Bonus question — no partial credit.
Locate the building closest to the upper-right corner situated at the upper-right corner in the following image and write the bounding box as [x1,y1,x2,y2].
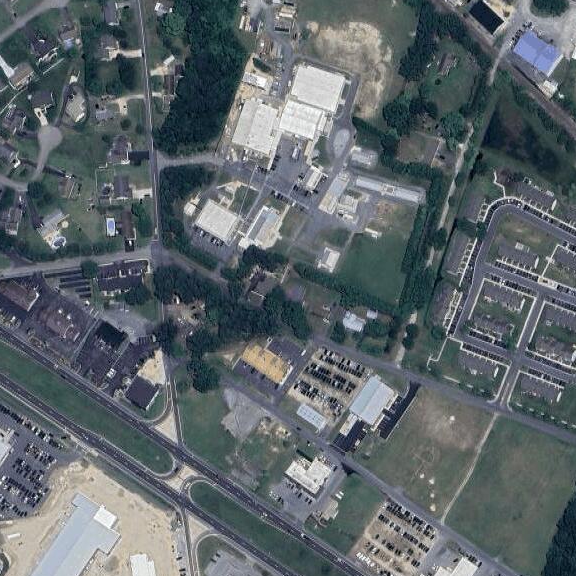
[514,30,563,79]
